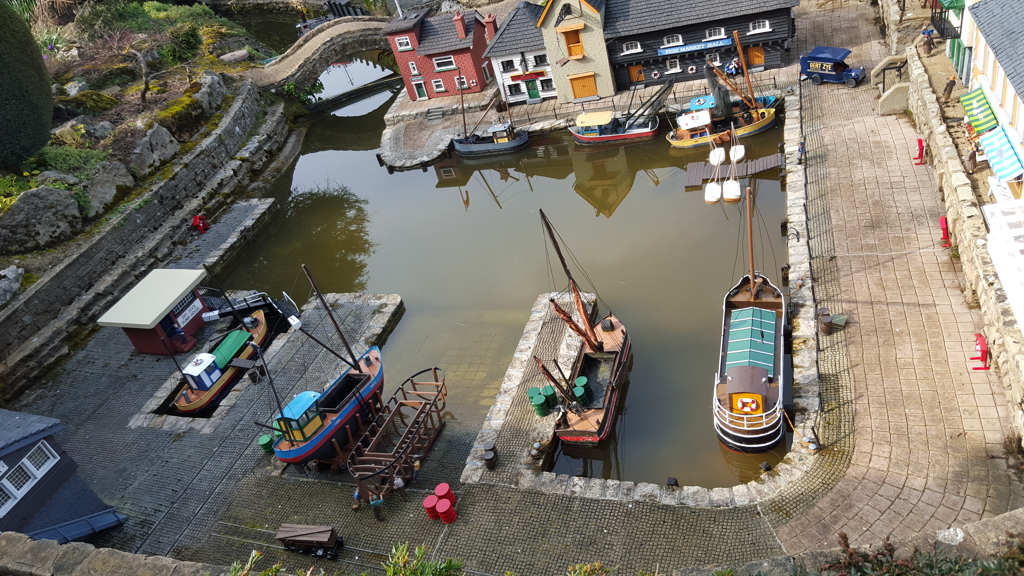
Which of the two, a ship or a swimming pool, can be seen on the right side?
ship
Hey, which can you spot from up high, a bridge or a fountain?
bridge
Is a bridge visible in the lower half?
No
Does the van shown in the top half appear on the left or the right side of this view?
right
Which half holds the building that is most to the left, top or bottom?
bottom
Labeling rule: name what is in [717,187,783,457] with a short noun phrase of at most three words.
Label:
ship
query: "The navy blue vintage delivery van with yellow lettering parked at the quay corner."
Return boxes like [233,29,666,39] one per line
[799,49,869,86]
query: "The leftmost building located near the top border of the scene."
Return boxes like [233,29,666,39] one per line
[377,0,499,101]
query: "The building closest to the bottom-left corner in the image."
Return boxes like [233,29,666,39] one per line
[0,400,129,576]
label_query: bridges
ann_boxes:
[258,6,401,103]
